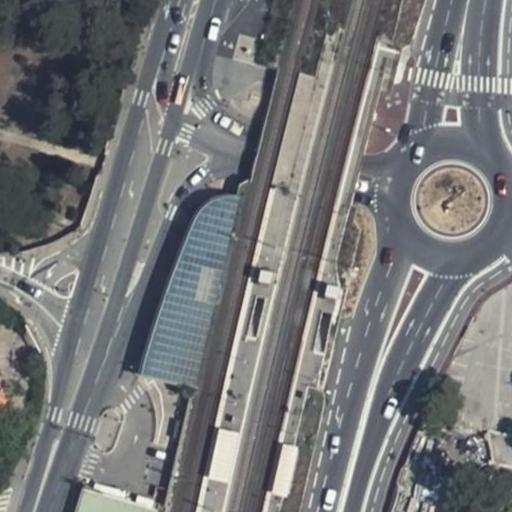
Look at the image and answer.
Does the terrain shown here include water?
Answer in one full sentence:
No, no water is visible.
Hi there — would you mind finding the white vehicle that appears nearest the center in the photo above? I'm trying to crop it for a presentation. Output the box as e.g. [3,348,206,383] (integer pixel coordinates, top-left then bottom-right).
[188,168,206,186]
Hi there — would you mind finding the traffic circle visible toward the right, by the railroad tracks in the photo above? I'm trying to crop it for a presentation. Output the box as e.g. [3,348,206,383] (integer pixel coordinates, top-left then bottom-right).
[379,127,512,273]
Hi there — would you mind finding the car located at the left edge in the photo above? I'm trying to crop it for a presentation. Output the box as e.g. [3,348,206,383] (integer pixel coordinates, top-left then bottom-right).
[16,279,39,297]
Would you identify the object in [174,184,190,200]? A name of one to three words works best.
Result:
car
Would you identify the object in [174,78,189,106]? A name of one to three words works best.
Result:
vehicle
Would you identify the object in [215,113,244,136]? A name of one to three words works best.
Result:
truck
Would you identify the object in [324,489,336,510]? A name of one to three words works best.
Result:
vehicle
